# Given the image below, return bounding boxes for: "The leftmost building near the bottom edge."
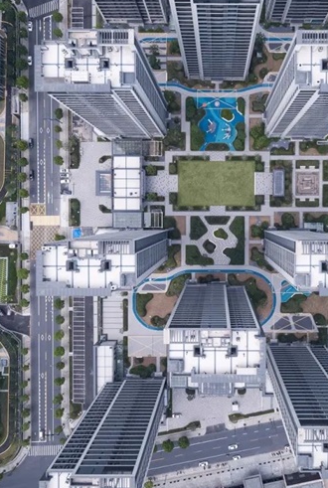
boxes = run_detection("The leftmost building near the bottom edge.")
[36,369,168,488]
